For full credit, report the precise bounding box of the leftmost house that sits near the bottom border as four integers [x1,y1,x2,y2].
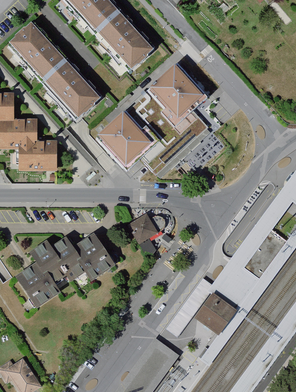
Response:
[0,358,41,392]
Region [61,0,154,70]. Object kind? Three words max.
house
